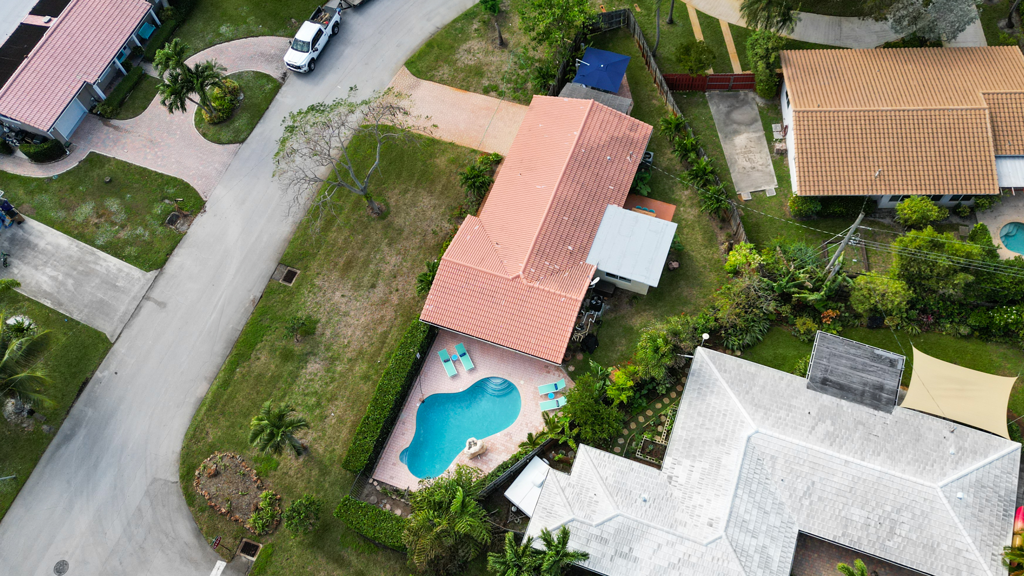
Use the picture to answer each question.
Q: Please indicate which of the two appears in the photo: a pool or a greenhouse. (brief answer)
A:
pool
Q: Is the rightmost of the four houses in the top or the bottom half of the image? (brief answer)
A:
top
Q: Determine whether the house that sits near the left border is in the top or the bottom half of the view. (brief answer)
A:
top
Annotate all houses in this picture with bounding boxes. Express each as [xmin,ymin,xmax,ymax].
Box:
[418,93,677,367]
[780,45,1024,207]
[519,331,1020,576]
[0,0,161,142]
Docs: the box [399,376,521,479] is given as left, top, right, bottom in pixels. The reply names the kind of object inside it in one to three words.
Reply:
swimming pool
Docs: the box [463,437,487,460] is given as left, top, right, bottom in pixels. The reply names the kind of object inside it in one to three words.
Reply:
fountain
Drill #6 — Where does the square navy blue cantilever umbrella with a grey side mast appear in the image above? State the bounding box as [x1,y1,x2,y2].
[572,47,630,93]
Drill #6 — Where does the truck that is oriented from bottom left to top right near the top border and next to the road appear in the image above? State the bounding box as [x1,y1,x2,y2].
[281,6,342,78]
